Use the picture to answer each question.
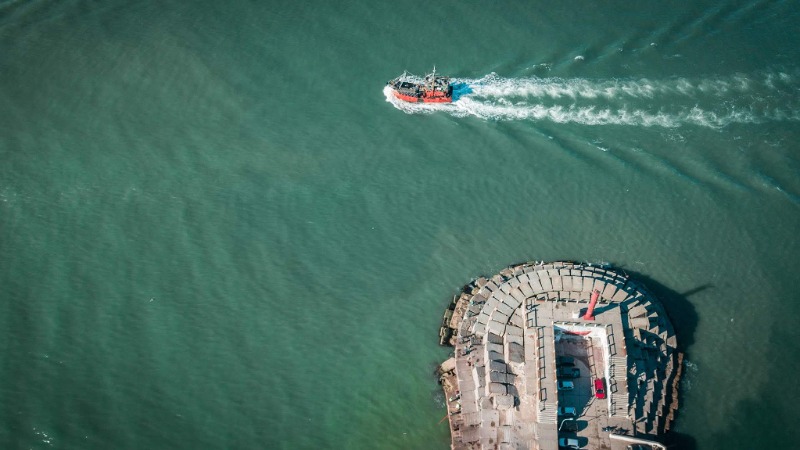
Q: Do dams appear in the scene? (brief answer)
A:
No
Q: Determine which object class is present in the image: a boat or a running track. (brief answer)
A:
boat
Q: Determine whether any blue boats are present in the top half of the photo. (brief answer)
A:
No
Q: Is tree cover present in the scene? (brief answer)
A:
No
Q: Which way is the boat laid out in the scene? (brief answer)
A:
from side to side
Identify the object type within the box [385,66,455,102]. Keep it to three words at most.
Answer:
boat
